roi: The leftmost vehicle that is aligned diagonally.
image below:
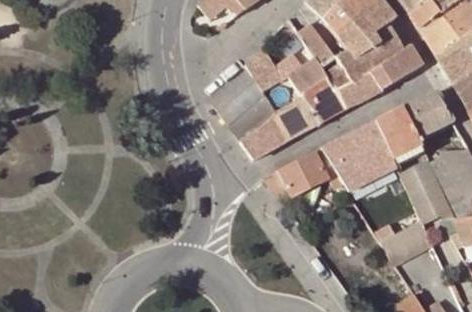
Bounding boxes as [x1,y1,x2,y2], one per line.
[201,78,223,98]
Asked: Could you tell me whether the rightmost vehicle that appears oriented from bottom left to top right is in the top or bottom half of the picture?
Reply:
top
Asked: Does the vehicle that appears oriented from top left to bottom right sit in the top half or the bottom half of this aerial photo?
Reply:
bottom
